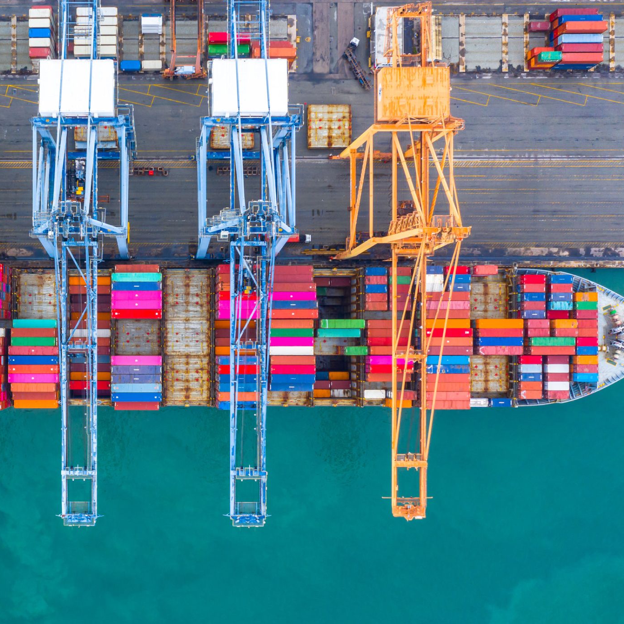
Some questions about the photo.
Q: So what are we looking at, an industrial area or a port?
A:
port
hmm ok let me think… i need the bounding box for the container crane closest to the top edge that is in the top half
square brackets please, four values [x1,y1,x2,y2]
[162,0,208,78]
